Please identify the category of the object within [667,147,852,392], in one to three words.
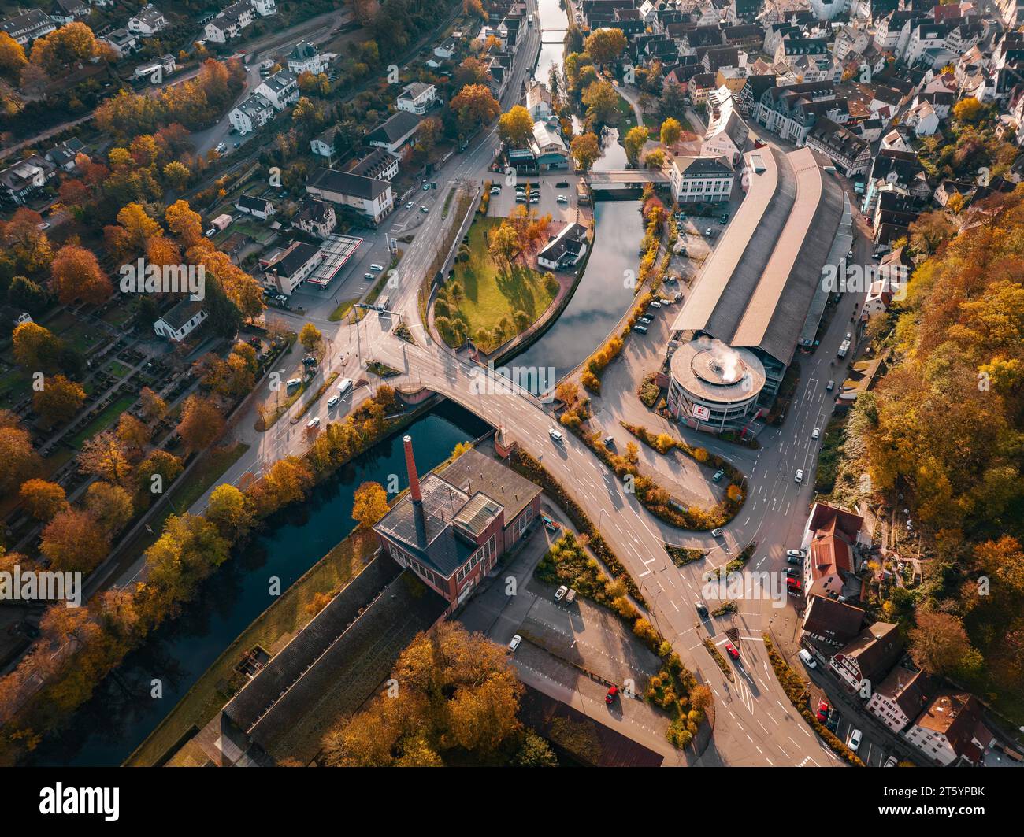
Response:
building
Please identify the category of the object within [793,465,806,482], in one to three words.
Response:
vehicle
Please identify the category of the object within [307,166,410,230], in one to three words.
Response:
house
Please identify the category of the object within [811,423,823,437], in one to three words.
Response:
vehicle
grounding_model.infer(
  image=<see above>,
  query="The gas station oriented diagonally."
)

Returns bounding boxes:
[302,234,361,291]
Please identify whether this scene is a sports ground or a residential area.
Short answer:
residential area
